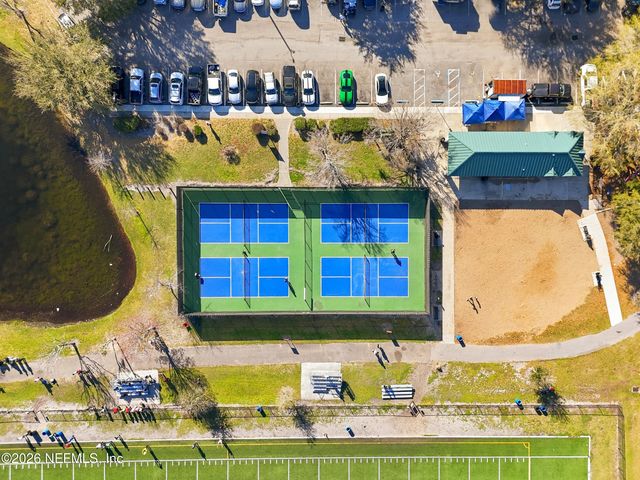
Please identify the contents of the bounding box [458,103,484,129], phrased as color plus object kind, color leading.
blue tent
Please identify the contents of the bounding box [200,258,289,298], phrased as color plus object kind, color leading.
blue sports court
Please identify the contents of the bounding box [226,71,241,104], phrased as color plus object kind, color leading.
white car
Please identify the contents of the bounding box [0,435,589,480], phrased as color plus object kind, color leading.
green sports field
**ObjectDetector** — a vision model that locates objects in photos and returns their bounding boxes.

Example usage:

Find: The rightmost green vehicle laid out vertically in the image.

[339,71,354,105]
